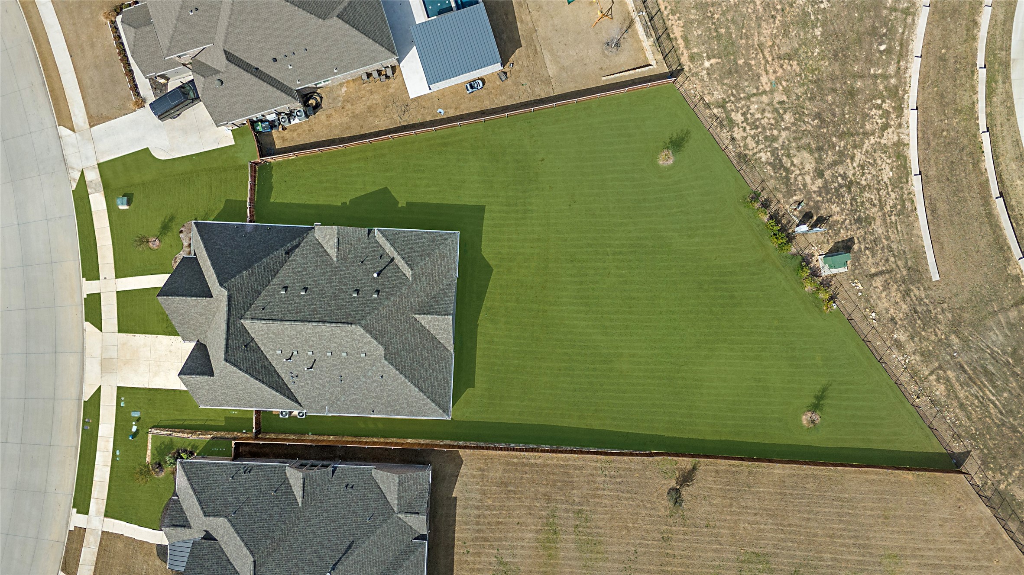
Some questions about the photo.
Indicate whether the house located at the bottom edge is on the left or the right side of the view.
left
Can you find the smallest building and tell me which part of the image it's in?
top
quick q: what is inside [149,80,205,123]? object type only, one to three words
van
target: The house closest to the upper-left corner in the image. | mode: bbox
[120,0,399,130]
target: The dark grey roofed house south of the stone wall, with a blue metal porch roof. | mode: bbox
[161,455,434,575]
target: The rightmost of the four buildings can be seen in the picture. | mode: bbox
[410,2,502,88]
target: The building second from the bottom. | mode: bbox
[157,220,460,420]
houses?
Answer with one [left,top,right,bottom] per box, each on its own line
[161,455,434,575]
[120,0,399,130]
[157,220,460,420]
